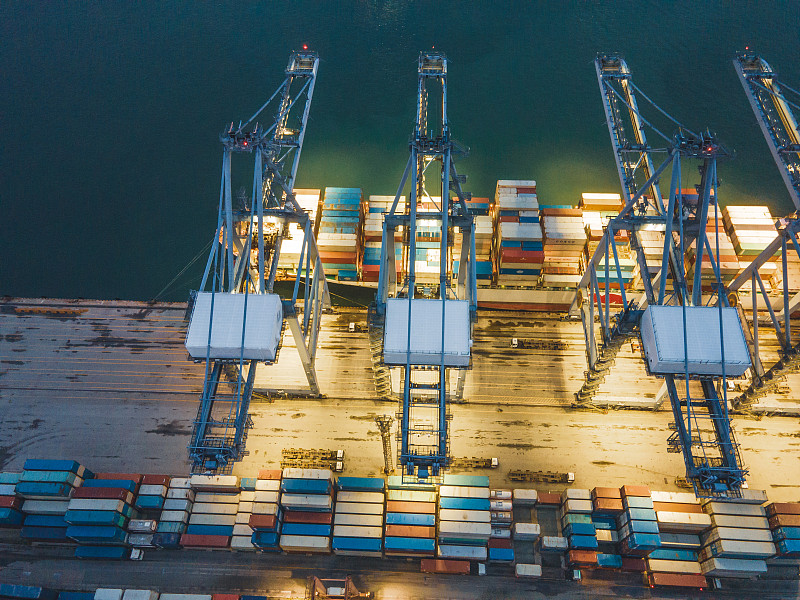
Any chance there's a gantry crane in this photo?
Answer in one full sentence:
Yes, the photo shows a gantry crane.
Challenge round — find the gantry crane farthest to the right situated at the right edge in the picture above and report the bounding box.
[722,43,800,412]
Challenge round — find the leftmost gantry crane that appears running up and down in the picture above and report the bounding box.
[177,44,346,478]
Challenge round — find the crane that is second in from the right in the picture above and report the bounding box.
[556,43,753,495]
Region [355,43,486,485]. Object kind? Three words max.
container crane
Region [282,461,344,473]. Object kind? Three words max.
vehicle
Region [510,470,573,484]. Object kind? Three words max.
vehicle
